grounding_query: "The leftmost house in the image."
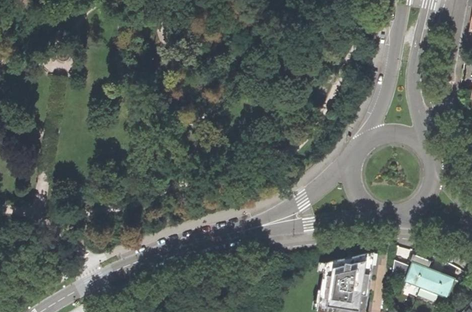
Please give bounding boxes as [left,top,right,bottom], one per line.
[312,252,378,312]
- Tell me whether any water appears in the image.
No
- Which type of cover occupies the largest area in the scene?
trees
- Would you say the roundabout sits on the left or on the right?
right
